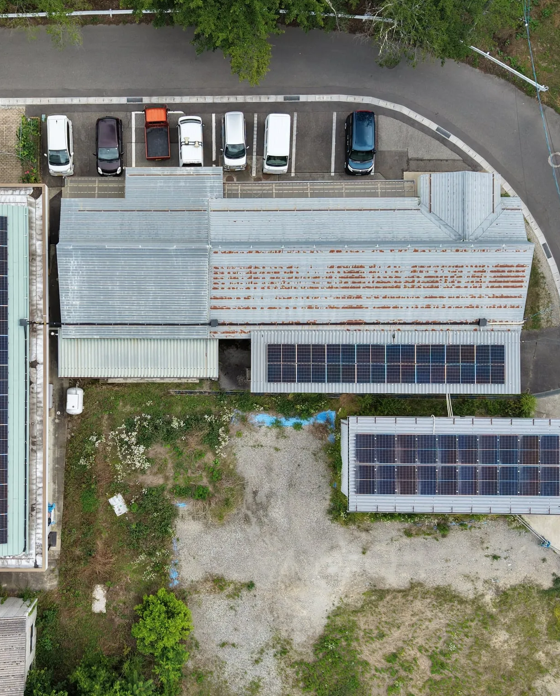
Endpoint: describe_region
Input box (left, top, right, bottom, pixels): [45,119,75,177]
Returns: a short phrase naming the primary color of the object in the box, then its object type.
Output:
white car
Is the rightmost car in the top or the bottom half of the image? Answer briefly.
top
